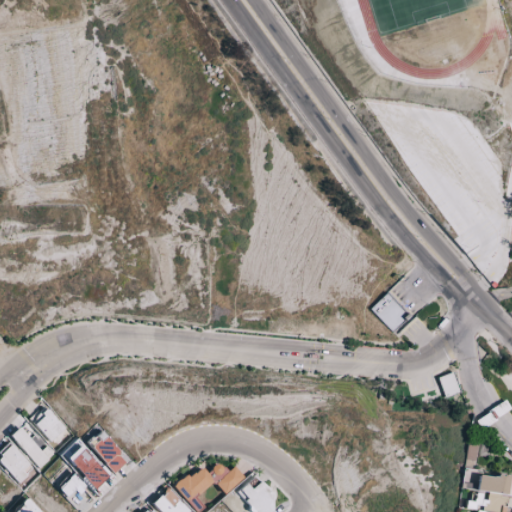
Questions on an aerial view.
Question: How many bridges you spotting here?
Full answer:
I count no bridges.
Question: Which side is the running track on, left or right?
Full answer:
The running track sits on the right side.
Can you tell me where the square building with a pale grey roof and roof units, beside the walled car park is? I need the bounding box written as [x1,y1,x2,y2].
[372,293,406,332]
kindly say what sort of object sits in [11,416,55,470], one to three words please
house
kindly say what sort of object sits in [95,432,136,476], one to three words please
house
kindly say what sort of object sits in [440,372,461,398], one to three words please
building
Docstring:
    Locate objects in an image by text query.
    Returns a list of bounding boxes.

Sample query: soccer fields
[368,0,480,38]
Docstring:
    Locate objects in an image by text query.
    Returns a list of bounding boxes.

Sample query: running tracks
[359,0,496,78]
